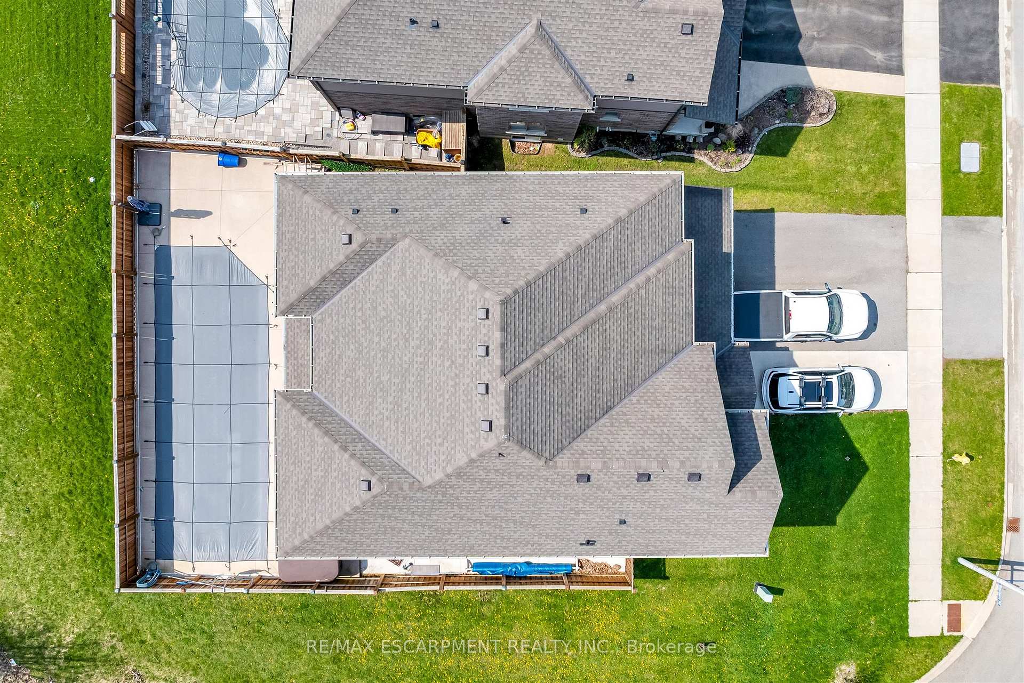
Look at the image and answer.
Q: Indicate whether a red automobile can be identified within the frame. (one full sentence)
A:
No, the picture doesn't show any red automobile.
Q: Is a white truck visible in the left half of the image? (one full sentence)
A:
No, no white truck appears in the left half of the image.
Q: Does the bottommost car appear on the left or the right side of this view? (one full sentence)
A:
The bottommost car is on the right side of the image.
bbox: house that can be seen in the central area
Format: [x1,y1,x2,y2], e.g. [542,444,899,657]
[273,170,784,561]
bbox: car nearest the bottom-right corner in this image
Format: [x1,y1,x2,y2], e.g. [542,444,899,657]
[758,362,872,419]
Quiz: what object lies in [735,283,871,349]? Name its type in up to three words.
truck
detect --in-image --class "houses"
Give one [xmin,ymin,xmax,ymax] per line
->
[273,170,784,561]
[286,0,759,144]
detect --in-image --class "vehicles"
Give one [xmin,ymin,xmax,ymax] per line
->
[758,362,872,419]
[735,283,871,349]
